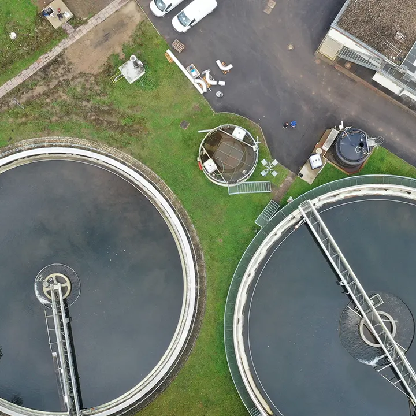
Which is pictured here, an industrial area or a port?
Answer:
industrial area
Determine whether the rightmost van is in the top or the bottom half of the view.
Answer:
top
